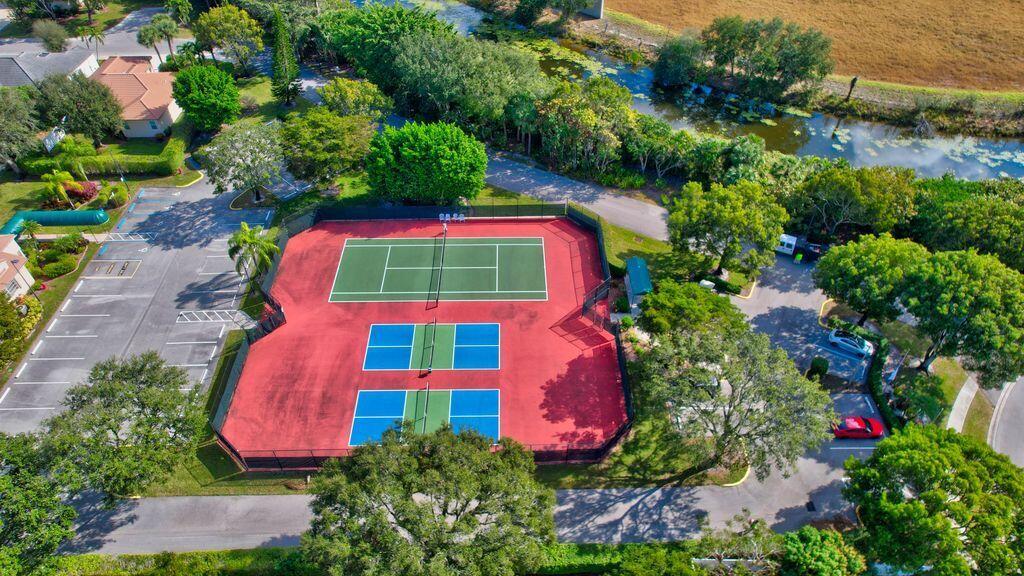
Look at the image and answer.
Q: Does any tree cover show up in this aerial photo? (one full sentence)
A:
Yes, there's tree cover in this view.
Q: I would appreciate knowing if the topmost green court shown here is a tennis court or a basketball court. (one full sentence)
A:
From above, the topmost green court can be identified as a tennis court.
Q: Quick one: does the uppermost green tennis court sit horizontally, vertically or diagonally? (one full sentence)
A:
What the image shows is the uppermost green tennis court lying horizontally.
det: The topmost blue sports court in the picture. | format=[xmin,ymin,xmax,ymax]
[363,323,500,370]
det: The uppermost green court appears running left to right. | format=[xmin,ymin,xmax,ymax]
[329,237,548,301]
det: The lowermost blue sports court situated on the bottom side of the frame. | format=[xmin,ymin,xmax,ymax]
[348,389,500,446]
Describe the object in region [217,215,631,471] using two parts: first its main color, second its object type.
red sports court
